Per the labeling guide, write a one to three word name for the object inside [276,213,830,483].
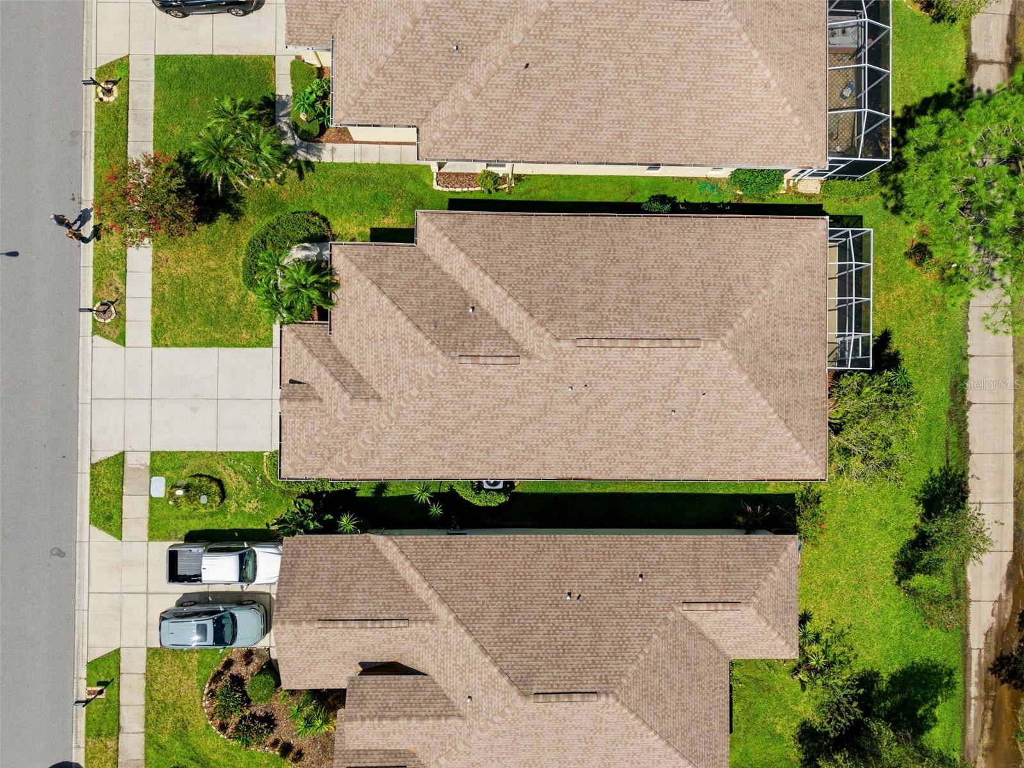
house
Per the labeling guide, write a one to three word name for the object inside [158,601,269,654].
car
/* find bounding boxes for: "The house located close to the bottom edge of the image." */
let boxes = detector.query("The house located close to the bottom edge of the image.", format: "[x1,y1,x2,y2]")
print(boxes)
[270,528,800,768]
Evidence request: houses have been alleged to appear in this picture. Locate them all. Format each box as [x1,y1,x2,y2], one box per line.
[276,213,830,483]
[270,528,800,768]
[281,0,829,188]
